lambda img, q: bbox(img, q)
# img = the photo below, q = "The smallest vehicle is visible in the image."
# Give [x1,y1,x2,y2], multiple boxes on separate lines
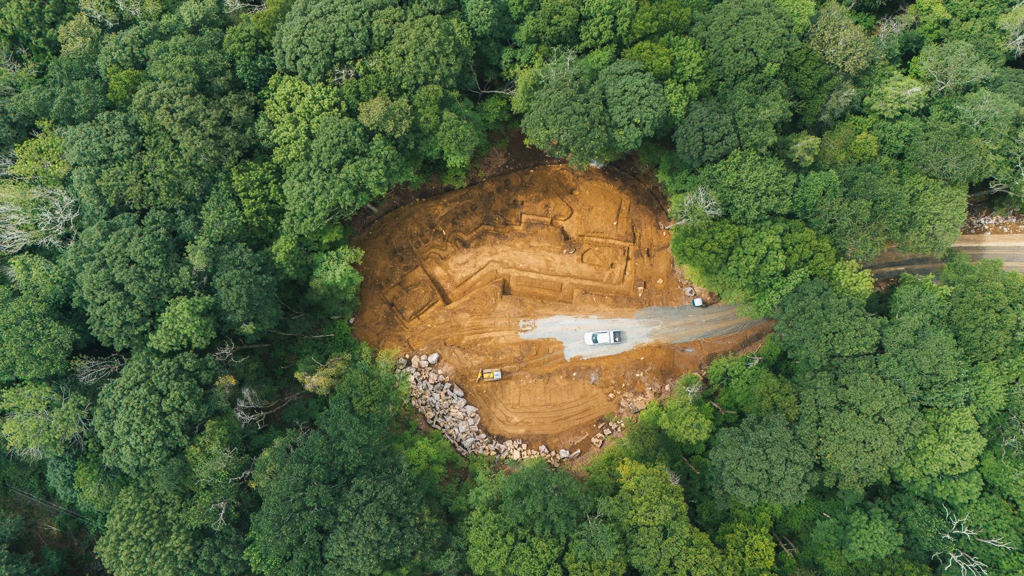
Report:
[477,368,502,384]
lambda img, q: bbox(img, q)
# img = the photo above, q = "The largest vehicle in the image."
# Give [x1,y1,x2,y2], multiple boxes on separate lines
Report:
[584,329,623,345]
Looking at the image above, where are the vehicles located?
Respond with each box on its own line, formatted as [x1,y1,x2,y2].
[477,368,502,384]
[584,329,623,345]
